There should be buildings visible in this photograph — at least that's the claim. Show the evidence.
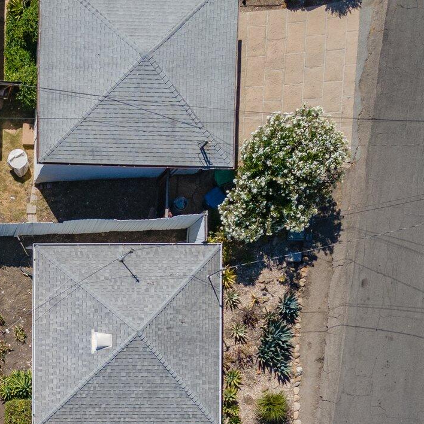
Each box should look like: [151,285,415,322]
[34,0,240,182]
[29,240,225,424]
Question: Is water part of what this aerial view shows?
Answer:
No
